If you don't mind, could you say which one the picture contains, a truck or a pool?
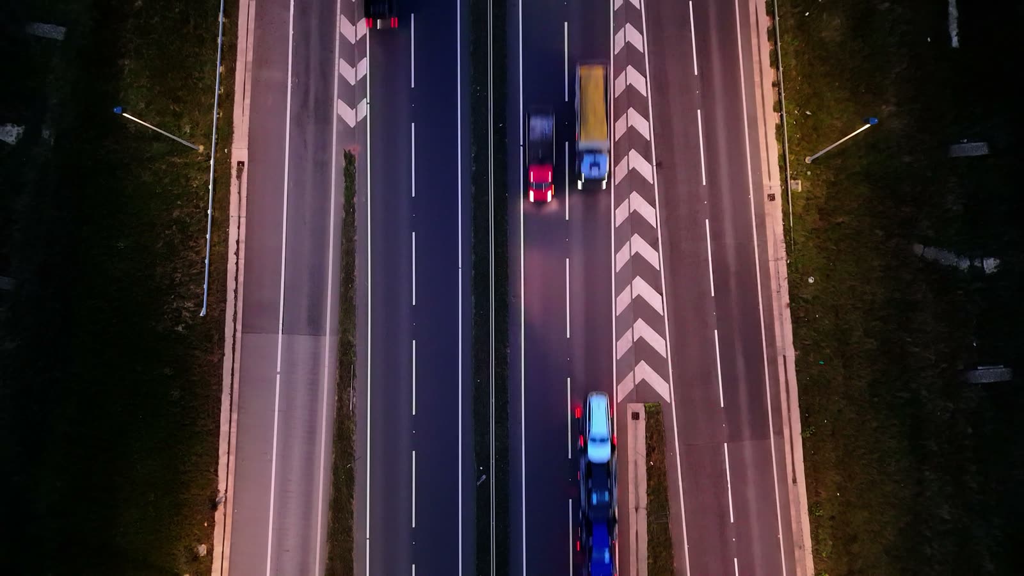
truck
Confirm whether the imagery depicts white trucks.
No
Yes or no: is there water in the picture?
No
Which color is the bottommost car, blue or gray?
blue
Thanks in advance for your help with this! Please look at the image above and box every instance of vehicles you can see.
[576,390,616,576]
[584,459,613,518]
[584,393,613,458]
[526,115,555,202]
[364,0,400,29]
[584,522,613,576]
[574,65,611,189]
